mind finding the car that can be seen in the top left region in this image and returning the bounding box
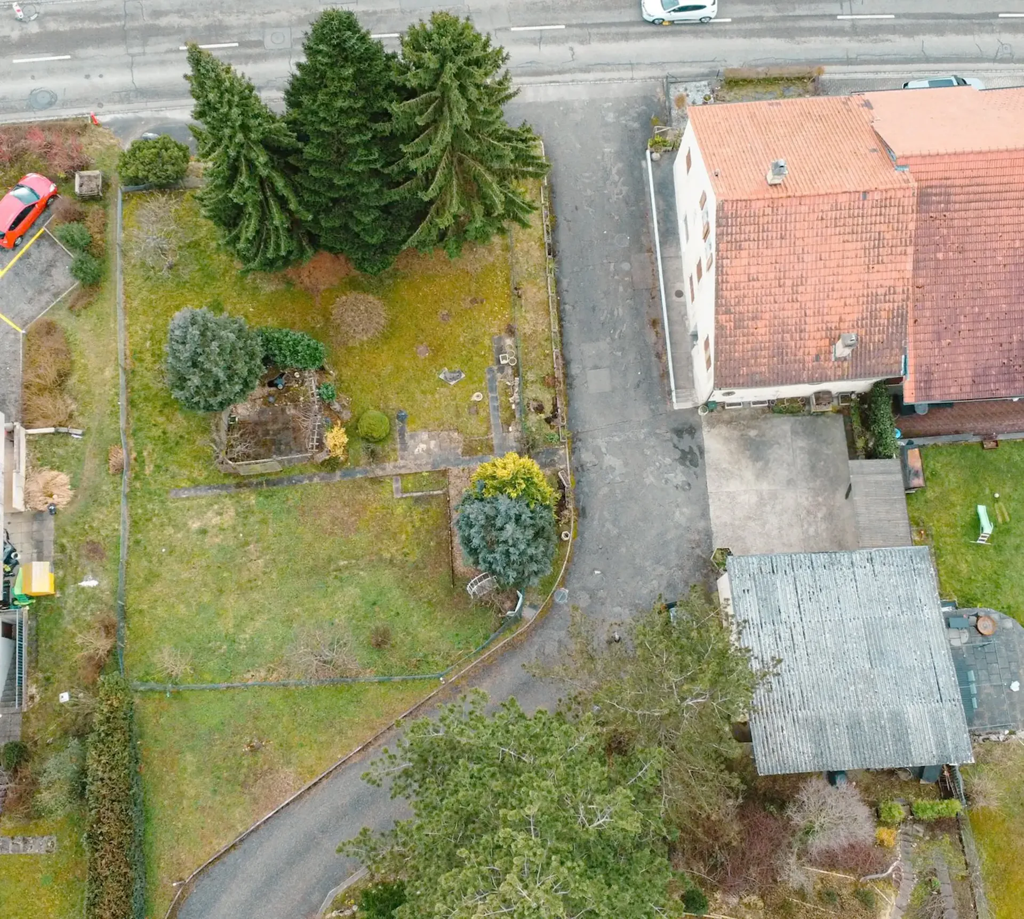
[0,176,56,250]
